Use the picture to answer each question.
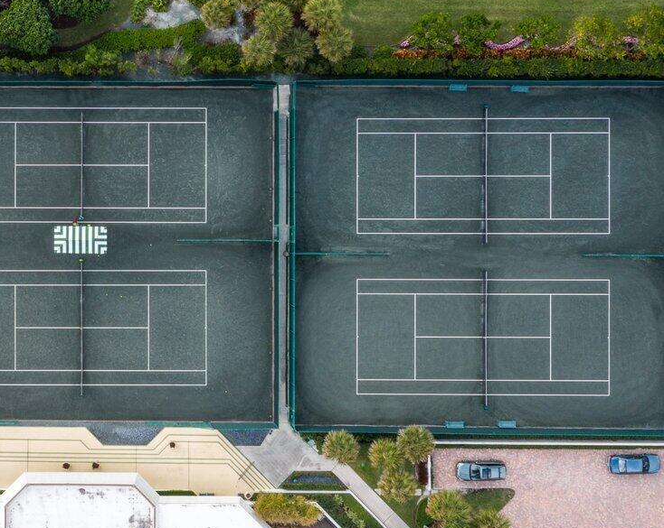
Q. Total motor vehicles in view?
2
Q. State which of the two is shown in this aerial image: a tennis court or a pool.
tennis court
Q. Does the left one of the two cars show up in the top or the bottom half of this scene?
bottom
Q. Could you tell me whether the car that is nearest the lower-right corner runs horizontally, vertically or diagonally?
horizontally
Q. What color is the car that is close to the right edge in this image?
blue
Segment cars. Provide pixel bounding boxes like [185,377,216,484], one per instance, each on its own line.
[454,459,507,485]
[605,452,658,477]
